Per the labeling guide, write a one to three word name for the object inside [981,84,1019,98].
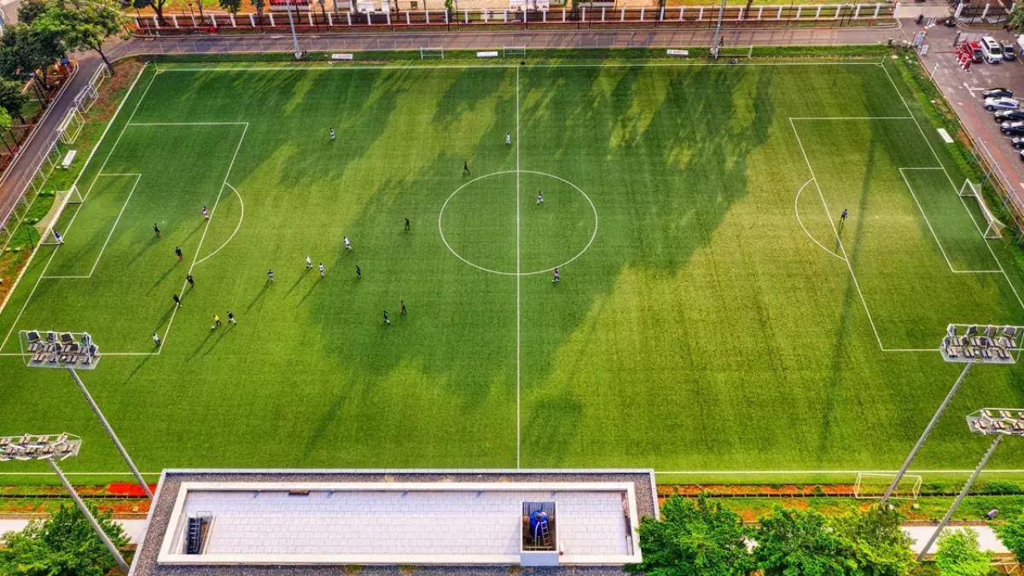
car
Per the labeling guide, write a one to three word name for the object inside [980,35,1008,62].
vehicle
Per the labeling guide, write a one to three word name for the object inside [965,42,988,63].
car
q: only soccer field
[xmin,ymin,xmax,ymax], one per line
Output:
[0,57,1024,486]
